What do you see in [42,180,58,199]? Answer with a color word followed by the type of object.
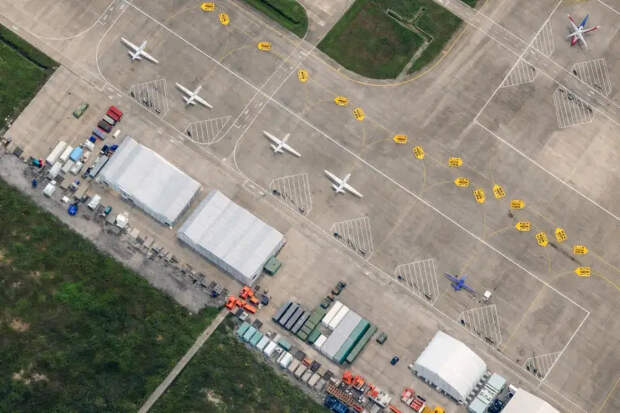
white vehicle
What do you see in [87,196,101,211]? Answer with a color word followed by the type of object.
white vehicle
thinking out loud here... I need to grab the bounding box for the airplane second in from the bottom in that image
[325,171,362,197]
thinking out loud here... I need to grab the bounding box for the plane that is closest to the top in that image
[124,36,159,62]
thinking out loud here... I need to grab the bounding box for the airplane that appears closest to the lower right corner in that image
[444,271,477,294]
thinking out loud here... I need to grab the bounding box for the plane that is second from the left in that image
[176,82,212,108]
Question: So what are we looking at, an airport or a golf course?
airport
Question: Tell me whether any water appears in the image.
No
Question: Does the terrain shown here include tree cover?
No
